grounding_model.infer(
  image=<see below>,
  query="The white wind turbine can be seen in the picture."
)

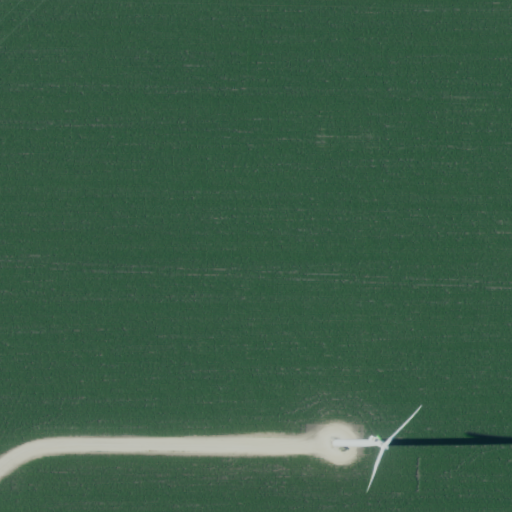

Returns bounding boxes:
[331,406,420,492]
